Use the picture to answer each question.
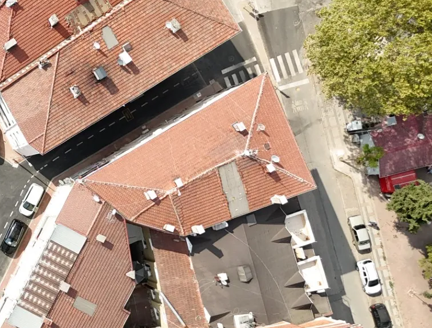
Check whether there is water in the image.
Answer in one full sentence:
No, there's no water in this view.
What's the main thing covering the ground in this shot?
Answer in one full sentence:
For the most part, this view shows buildings.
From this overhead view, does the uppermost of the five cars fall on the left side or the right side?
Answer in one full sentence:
It is on the left.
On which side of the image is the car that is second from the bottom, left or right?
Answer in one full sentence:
The car that is second from the bottom sits on the right side.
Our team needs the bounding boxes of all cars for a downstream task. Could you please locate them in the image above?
[356,259,381,295]
[19,182,44,217]
[346,214,370,252]
[369,301,392,328]
[1,218,26,255]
